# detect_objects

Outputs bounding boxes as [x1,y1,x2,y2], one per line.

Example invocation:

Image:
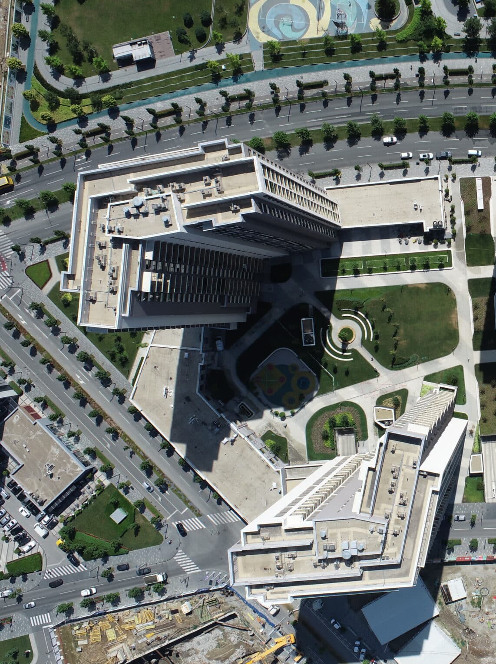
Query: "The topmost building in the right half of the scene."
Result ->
[325,176,447,233]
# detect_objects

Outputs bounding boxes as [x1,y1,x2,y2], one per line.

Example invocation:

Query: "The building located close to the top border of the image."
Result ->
[113,30,175,69]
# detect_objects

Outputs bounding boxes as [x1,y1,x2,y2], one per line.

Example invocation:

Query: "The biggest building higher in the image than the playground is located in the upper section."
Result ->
[61,139,343,335]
